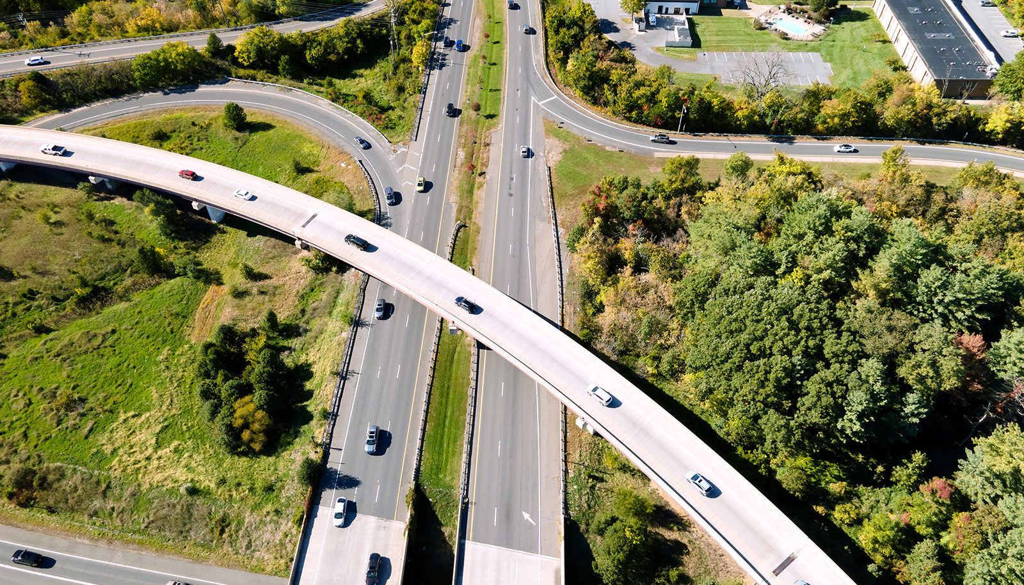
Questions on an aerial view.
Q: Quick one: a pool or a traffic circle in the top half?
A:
pool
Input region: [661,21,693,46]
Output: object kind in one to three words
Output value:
shed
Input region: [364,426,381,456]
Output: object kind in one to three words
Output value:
car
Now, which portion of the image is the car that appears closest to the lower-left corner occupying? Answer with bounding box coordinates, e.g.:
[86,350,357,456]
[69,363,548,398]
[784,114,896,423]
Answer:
[10,550,44,568]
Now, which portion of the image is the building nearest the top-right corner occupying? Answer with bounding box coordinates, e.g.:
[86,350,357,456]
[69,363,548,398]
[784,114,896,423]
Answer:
[868,0,997,99]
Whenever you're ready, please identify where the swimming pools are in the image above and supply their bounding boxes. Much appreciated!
[766,7,827,40]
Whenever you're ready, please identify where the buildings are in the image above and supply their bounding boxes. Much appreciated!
[661,21,693,46]
[868,0,997,99]
[644,0,702,13]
